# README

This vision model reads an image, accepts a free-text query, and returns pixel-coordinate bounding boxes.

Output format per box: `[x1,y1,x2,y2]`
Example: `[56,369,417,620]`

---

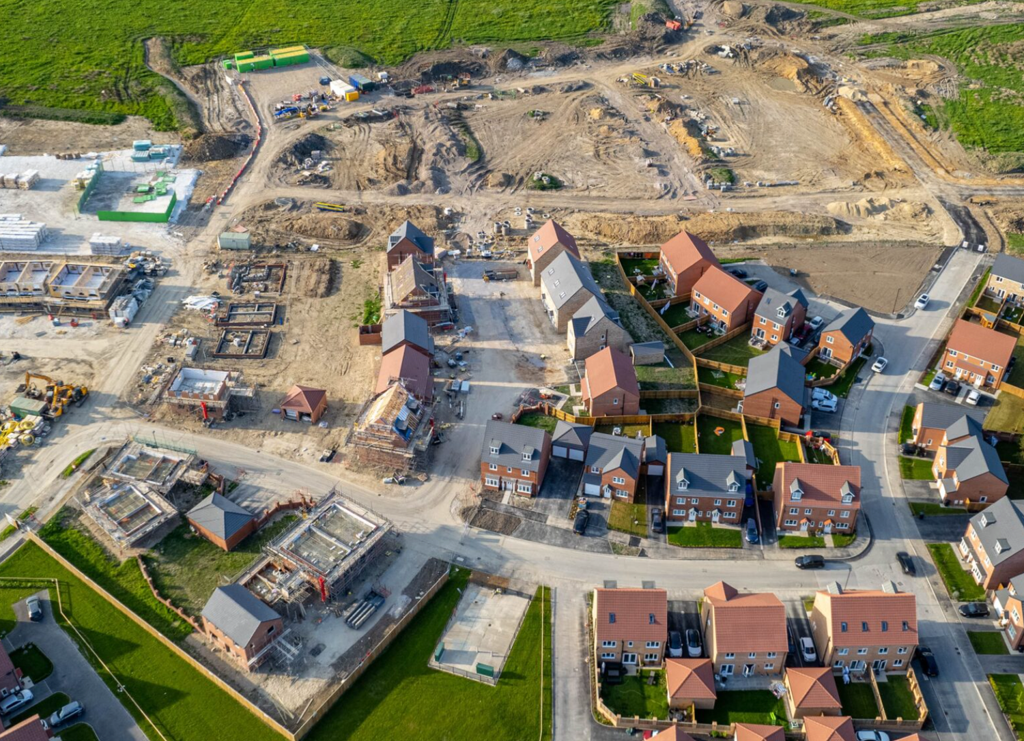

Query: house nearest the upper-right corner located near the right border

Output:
[984,251,1024,307]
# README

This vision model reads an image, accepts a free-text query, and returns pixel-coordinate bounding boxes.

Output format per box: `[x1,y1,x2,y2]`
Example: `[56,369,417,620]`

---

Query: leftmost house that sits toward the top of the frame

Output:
[0,258,63,313]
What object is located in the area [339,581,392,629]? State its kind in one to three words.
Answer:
trailer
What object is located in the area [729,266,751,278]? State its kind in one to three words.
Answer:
vehicle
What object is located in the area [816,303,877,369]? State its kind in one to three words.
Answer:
house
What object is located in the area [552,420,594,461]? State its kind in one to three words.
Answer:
building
